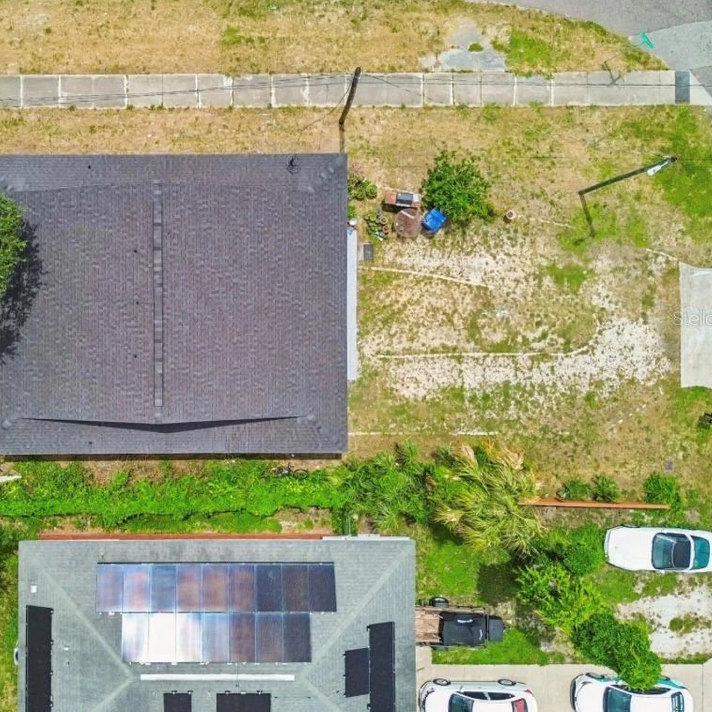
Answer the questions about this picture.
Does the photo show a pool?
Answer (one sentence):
No, there appears to be no pool in this shot.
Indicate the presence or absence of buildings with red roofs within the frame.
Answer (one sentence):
No, the frame has no building with a red roof in it.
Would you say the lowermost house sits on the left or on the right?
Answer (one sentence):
The lowermost house sits on the left side.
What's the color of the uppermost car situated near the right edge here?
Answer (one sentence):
The uppermost car situated near the right edge looks white in the image.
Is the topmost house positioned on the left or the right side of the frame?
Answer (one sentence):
The topmost house sits on the left side.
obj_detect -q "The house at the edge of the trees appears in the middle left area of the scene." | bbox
[0,153,350,456]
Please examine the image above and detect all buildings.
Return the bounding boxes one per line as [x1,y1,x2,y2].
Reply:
[0,153,350,456]
[17,529,417,712]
